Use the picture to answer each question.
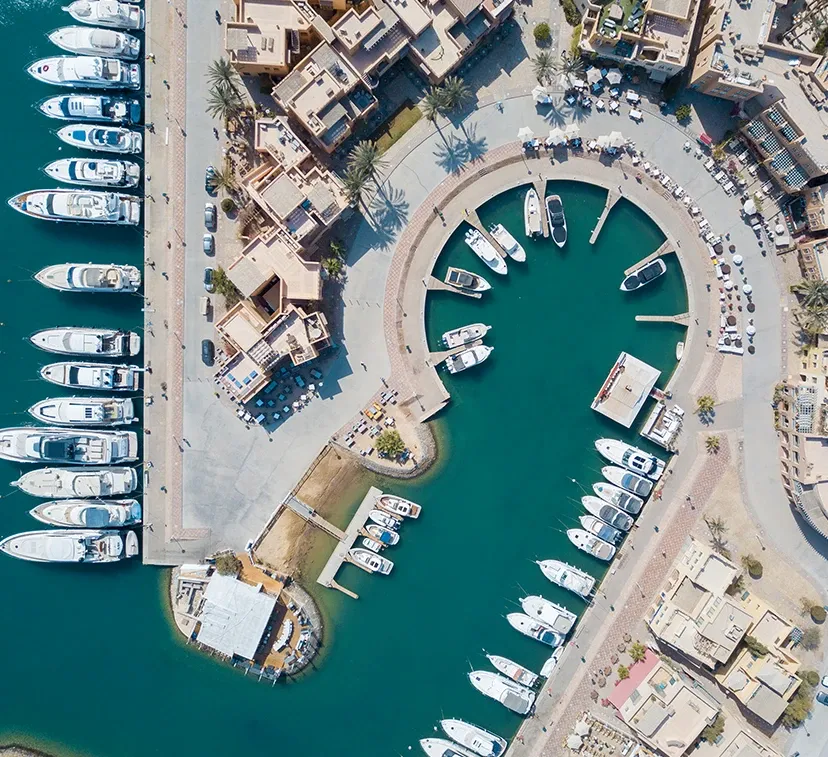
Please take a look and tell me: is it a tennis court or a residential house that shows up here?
residential house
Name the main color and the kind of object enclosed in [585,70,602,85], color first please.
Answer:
white umbrella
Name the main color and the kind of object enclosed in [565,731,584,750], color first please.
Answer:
white umbrella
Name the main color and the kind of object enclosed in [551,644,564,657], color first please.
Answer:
white boat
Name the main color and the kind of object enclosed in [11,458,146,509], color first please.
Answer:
white boat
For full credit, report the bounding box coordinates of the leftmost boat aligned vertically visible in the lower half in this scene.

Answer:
[127,530,140,556]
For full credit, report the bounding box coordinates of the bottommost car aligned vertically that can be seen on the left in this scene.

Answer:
[201,339,213,365]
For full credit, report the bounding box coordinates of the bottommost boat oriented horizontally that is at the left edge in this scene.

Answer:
[1,530,131,563]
